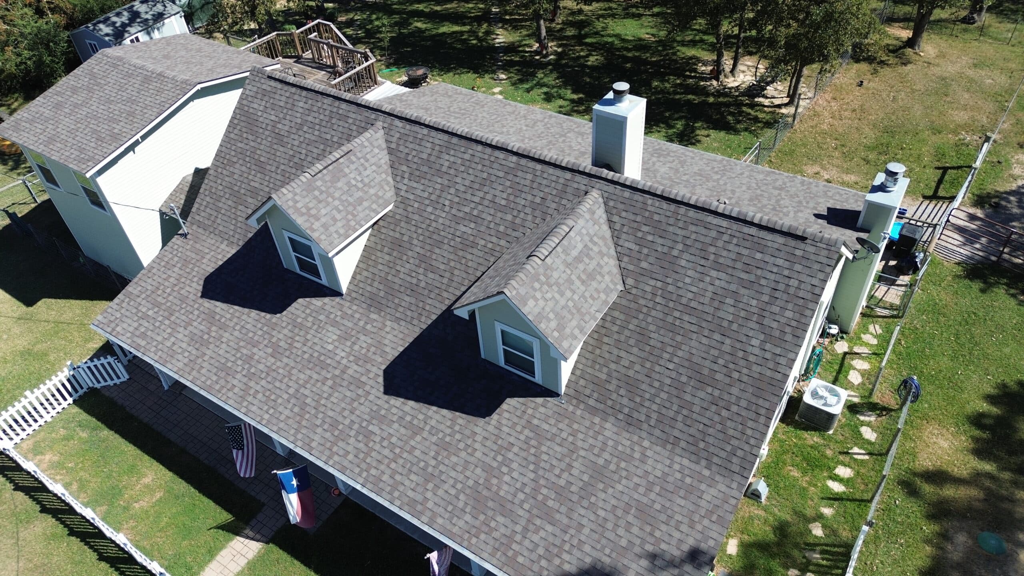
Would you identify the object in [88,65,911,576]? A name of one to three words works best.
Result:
house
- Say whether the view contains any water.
No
